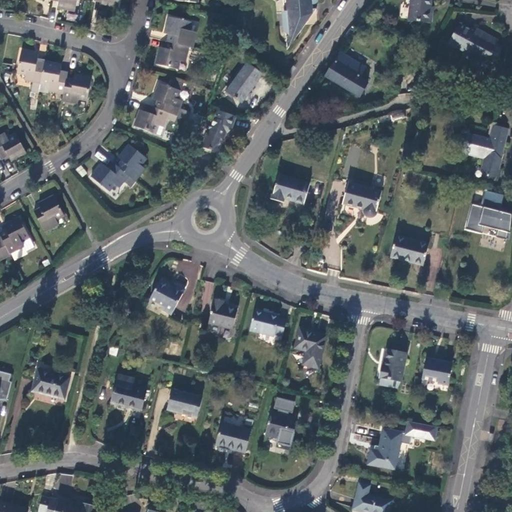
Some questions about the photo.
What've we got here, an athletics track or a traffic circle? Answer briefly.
traffic circle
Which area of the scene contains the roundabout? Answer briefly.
center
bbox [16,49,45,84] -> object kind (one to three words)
house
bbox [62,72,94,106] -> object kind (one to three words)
house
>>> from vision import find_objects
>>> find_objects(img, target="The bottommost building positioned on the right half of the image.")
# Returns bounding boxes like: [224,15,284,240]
[352,480,390,512]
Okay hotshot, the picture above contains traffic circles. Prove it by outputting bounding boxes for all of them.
[178,192,235,248]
